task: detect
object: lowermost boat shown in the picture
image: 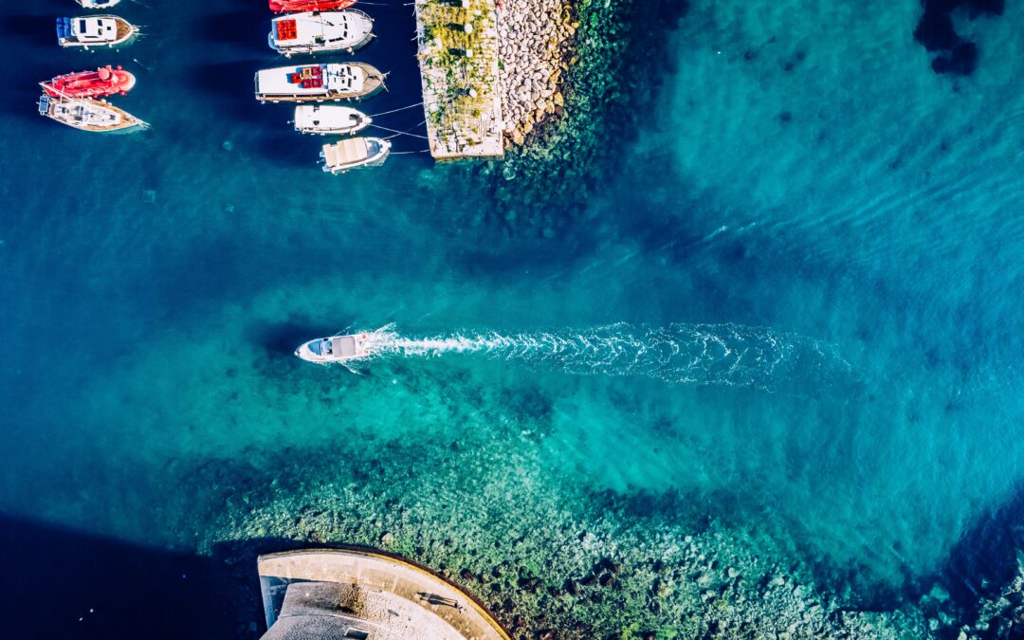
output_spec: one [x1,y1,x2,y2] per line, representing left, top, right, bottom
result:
[295,333,374,361]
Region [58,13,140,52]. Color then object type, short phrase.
white boat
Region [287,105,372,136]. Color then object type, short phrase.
white boat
